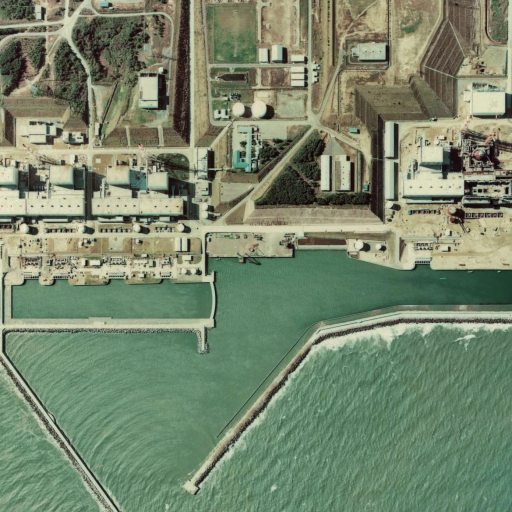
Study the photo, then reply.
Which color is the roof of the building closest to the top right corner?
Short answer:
white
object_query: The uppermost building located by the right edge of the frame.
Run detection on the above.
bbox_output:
[463,84,505,118]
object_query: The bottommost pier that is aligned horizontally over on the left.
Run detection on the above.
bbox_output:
[2,316,214,354]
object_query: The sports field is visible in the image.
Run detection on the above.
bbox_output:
[214,6,256,62]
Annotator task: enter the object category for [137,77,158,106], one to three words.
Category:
building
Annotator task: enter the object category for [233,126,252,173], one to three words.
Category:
building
